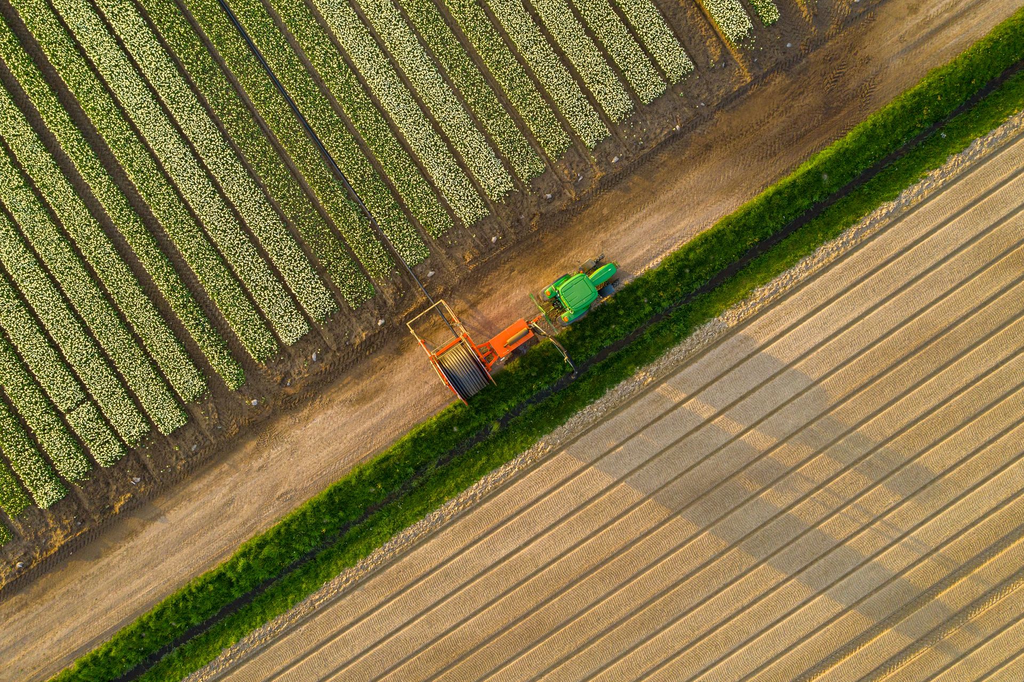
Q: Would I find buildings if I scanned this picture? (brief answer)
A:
No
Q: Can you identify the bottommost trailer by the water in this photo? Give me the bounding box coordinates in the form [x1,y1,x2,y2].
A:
[406,299,546,406]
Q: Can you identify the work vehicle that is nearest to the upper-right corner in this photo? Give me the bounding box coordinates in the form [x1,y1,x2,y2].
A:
[531,255,622,335]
